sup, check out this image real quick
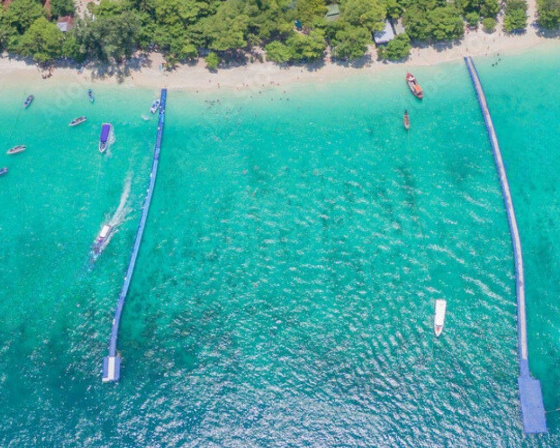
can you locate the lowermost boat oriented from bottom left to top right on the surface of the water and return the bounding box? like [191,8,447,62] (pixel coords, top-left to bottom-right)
[94,221,114,252]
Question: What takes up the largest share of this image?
water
